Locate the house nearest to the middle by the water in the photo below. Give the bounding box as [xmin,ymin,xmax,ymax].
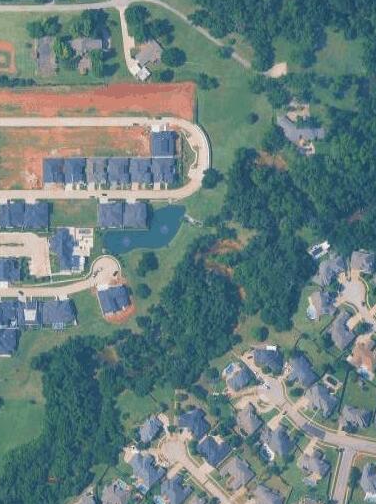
[124,202,146,228]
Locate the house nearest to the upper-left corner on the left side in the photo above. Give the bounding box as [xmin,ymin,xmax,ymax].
[70,35,104,69]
